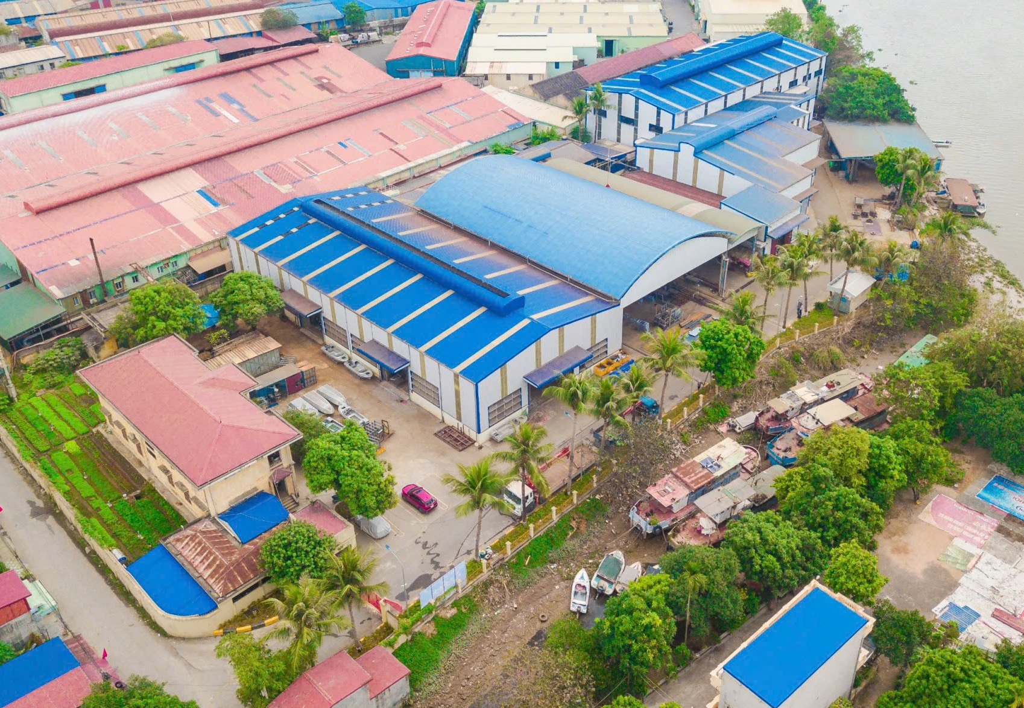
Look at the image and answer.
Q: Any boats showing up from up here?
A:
Yes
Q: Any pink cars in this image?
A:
Yes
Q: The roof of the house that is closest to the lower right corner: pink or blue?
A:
blue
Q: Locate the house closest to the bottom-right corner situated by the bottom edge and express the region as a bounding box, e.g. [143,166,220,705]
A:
[700,569,869,708]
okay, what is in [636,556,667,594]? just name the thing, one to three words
boat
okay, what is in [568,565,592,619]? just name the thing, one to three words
boat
